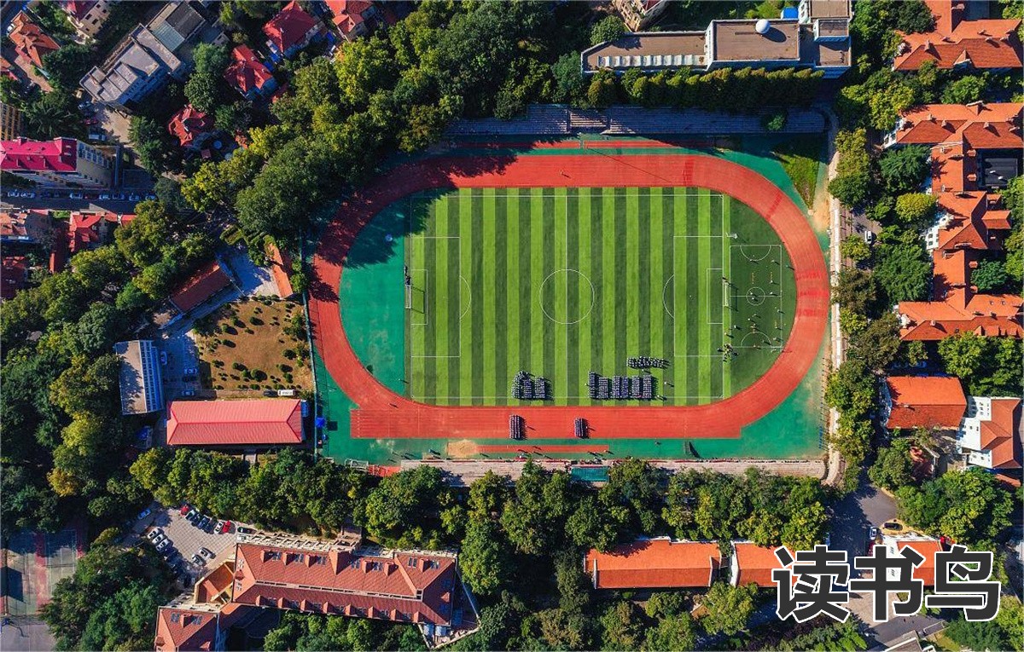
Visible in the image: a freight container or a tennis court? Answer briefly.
tennis court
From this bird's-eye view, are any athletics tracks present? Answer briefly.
Yes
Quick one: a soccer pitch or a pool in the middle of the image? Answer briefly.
soccer pitch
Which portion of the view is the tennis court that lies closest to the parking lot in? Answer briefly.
bottom left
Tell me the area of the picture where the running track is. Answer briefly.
center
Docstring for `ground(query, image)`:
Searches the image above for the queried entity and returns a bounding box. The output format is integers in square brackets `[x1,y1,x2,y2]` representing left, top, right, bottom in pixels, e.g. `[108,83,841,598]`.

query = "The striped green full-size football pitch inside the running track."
[404,188,795,406]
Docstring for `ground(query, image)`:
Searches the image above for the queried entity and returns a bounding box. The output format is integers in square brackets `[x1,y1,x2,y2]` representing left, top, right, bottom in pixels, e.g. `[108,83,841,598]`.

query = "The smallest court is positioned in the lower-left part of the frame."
[20,554,38,610]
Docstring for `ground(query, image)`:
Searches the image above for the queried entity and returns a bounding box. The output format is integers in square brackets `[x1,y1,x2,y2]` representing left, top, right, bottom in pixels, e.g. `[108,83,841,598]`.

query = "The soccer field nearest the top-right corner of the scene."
[729,245,781,347]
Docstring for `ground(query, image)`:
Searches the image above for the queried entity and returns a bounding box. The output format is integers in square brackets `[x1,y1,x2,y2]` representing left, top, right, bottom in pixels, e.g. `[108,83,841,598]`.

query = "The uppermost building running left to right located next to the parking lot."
[167,399,304,447]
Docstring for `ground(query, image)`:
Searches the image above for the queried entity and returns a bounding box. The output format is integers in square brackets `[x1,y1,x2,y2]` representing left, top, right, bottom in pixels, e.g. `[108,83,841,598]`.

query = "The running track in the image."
[307,154,828,440]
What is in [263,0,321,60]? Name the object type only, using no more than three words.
house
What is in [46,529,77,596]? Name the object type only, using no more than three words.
tennis court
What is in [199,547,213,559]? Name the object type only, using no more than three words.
vehicle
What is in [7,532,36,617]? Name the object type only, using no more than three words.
tennis court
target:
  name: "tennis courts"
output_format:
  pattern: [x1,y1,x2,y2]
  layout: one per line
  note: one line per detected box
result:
[46,529,77,596]
[20,554,38,610]
[7,532,36,617]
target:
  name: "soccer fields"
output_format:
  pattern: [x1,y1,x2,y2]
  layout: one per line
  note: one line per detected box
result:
[729,245,781,347]
[404,188,795,406]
